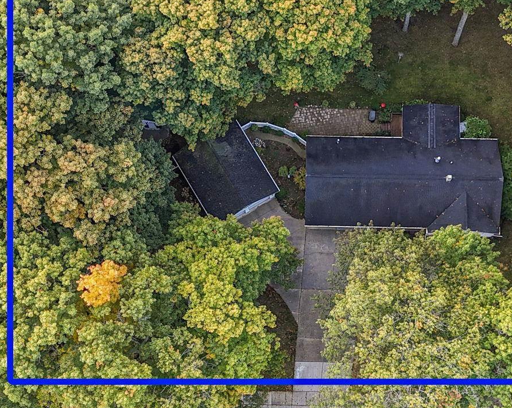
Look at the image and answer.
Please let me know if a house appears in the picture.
Yes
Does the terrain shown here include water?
No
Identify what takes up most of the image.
trees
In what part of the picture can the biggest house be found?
right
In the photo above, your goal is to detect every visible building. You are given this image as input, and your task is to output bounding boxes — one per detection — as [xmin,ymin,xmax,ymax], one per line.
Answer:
[173,122,280,226]
[305,103,505,240]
